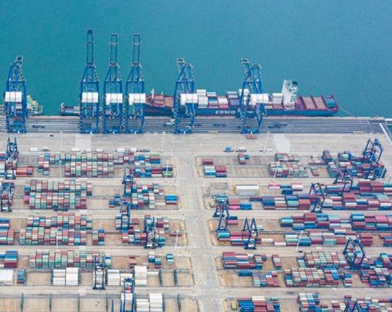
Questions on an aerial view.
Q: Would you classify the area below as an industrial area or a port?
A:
port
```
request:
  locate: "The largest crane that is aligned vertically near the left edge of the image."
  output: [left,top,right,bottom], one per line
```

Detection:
[5,58,28,133]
